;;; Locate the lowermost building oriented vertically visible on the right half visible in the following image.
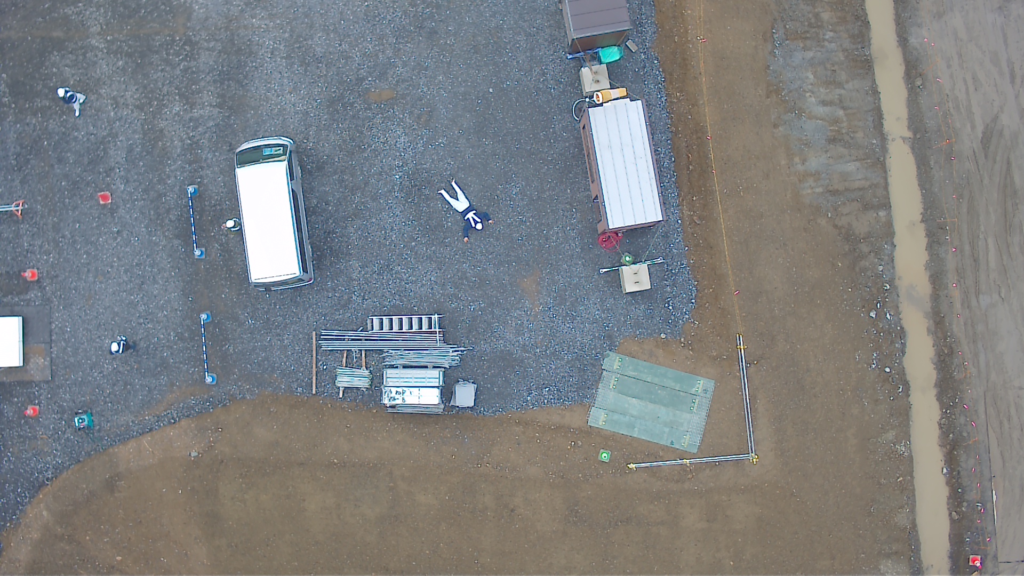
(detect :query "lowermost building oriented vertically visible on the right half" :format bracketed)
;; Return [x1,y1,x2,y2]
[581,95,666,236]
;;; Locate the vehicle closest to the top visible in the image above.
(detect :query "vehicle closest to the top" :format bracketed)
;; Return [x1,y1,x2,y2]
[235,134,311,291]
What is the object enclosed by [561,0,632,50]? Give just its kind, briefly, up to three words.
shed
